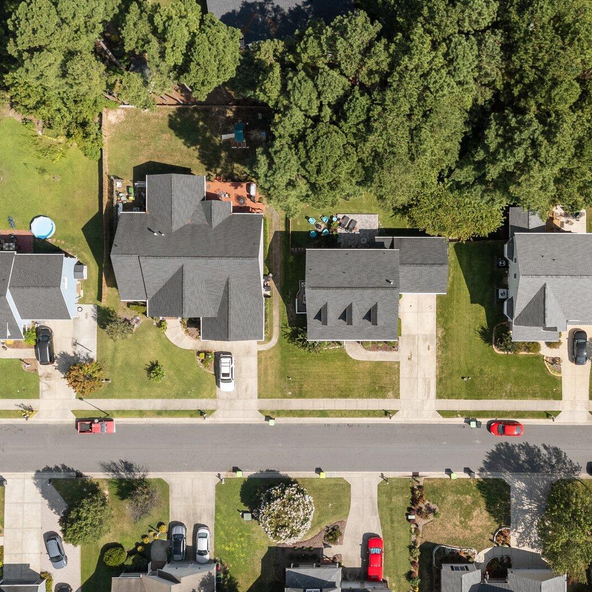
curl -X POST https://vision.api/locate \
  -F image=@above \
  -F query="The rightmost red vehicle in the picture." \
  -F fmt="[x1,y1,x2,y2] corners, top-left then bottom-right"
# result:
[489,420,523,437]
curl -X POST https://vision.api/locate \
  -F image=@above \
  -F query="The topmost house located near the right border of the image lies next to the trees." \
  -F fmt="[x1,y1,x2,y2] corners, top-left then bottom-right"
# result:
[505,206,592,342]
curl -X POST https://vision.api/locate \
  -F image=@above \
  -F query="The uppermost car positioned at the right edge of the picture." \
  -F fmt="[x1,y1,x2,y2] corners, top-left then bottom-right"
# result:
[572,331,589,365]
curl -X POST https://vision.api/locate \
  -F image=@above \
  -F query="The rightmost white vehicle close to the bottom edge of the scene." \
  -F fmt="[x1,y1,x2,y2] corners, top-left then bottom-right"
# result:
[194,526,211,563]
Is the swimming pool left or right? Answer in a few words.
left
